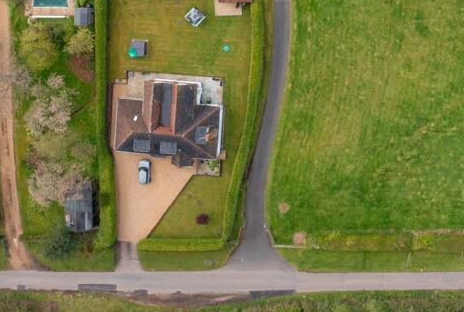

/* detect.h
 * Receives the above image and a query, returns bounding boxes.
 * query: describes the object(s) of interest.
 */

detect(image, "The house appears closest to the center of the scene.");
[113,78,228,168]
